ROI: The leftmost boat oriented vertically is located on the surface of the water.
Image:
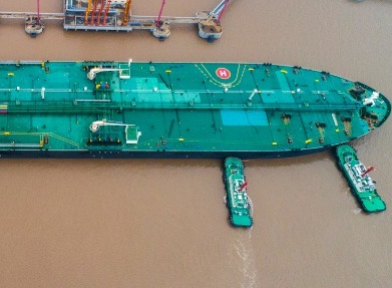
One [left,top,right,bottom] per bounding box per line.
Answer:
[223,155,254,229]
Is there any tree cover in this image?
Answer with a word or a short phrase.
No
